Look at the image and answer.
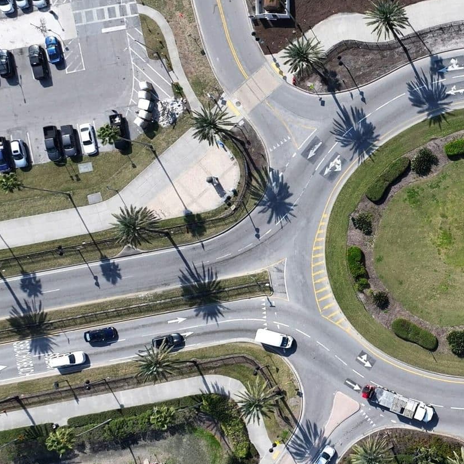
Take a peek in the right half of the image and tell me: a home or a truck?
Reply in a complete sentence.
The one visible in the right half of the image is a truck.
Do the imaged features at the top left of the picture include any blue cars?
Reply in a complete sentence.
Yes, there is a blue car at the top left of the picture.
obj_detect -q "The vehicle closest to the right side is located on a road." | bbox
[370,384,437,420]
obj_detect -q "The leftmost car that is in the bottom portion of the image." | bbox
[50,351,88,367]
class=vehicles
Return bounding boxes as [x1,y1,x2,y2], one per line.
[314,444,336,464]
[0,136,13,172]
[42,124,64,161]
[0,49,14,81]
[50,351,88,367]
[32,0,48,8]
[370,384,437,420]
[27,45,47,82]
[150,333,187,349]
[0,0,16,15]
[57,123,79,158]
[362,383,375,399]
[84,327,119,343]
[45,35,63,65]
[8,138,29,169]
[254,328,296,349]
[16,0,31,11]
[80,122,99,155]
